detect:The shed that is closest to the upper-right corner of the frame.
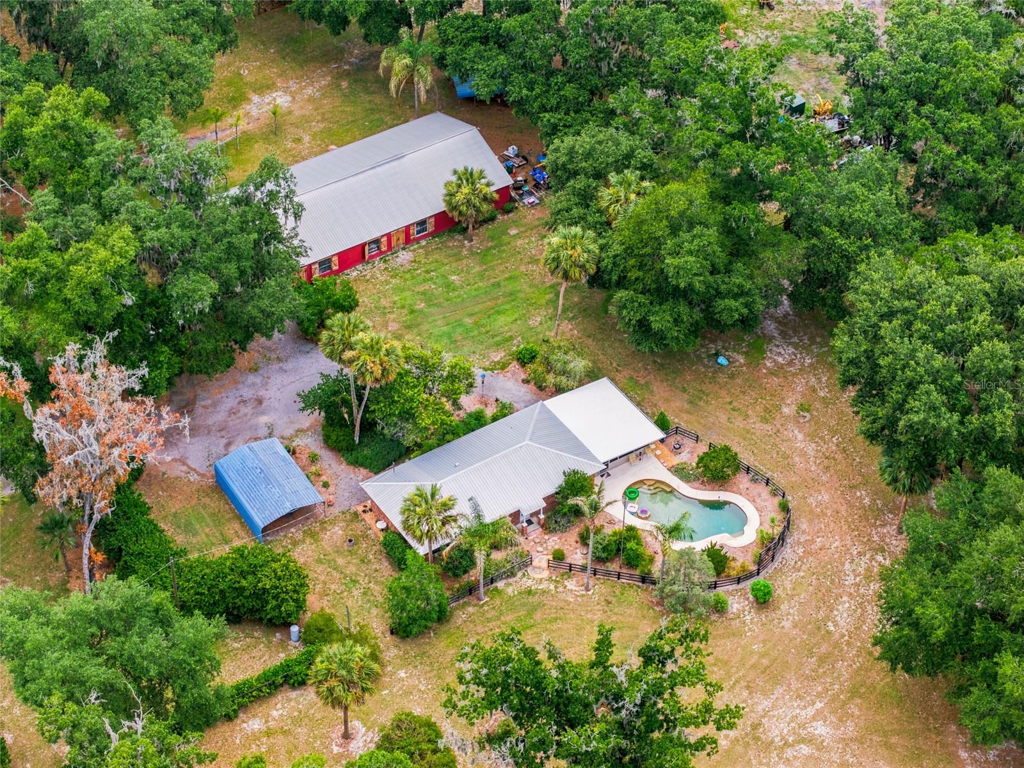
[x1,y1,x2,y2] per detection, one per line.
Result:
[785,90,811,122]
